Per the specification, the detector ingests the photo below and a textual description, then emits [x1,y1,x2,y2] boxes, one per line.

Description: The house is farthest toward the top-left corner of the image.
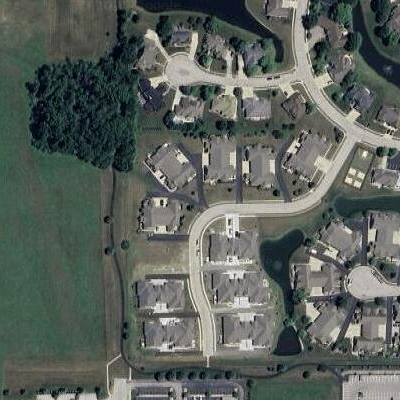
[140,44,158,70]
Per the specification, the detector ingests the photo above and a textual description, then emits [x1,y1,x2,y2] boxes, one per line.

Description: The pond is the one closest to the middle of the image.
[260,227,306,318]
